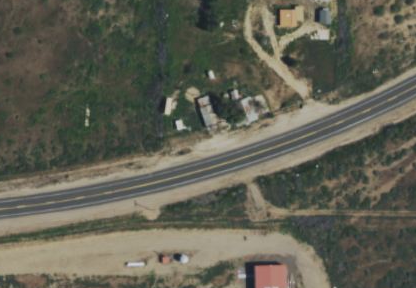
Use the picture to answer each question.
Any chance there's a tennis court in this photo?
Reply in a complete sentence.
No, the photo shows no tennis court.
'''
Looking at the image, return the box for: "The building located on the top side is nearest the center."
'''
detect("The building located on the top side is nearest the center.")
[196,96,219,126]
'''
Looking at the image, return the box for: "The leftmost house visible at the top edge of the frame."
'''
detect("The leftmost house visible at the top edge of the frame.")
[280,6,304,26]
